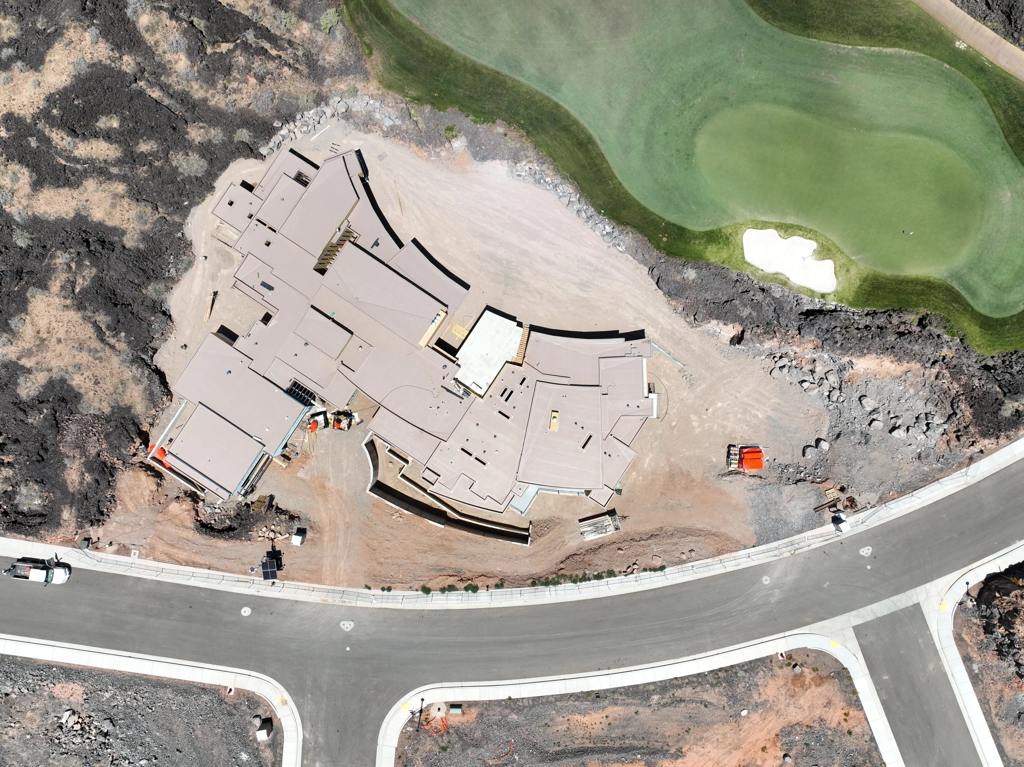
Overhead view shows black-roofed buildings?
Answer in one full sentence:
No, the photo shows no black-roofed building.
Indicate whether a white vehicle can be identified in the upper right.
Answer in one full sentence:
No, there's no white vehicle to be seen in the upper right.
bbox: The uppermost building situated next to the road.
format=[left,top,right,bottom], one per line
[166,148,657,513]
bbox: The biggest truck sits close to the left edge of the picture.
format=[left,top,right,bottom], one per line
[1,557,72,591]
